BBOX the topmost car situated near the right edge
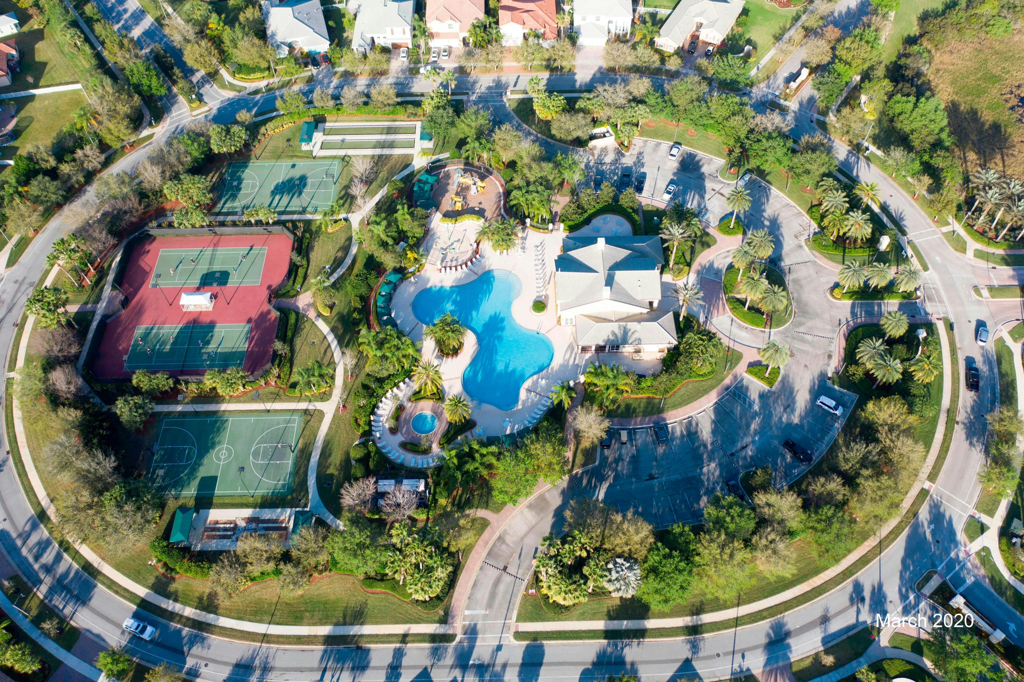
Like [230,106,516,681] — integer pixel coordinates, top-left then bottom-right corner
[975,326,990,347]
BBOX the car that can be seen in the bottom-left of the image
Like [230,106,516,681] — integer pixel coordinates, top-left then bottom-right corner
[123,617,155,640]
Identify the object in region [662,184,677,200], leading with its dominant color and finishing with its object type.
white car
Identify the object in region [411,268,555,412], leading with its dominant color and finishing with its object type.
blue swimming pool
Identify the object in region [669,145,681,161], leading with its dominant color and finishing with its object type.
white vehicle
